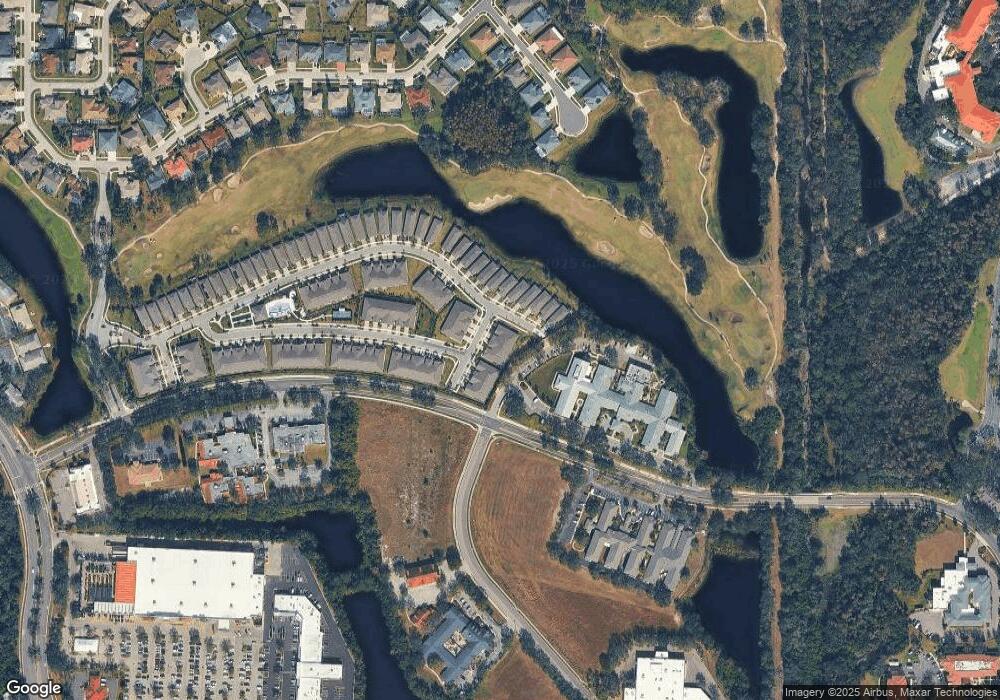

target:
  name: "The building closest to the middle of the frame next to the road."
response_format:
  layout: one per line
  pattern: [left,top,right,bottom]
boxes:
[480,324,520,365]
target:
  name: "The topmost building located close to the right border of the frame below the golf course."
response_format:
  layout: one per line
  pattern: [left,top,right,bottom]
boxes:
[933,557,991,624]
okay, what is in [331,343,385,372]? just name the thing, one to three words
building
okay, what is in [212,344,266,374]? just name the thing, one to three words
building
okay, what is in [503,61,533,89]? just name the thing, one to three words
house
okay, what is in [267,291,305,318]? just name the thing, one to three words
swimming pool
